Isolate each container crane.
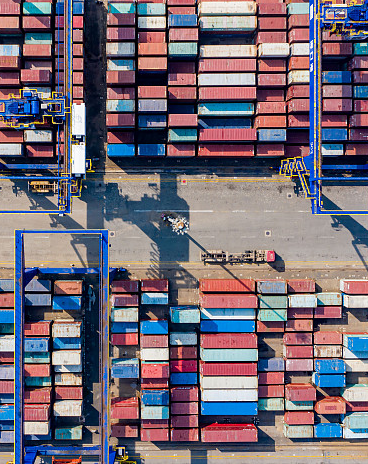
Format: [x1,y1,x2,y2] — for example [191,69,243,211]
[12,230,132,464]
[266,0,368,215]
[0,0,99,216]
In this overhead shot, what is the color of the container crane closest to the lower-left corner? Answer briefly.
blue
